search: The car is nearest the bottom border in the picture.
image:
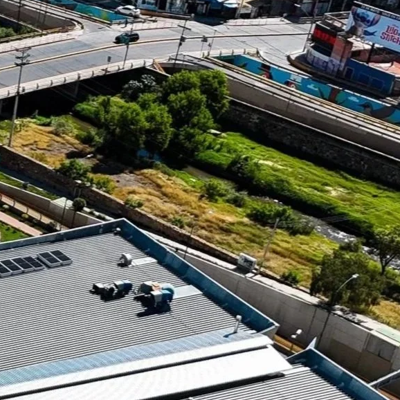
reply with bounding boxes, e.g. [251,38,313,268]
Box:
[112,28,141,47]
